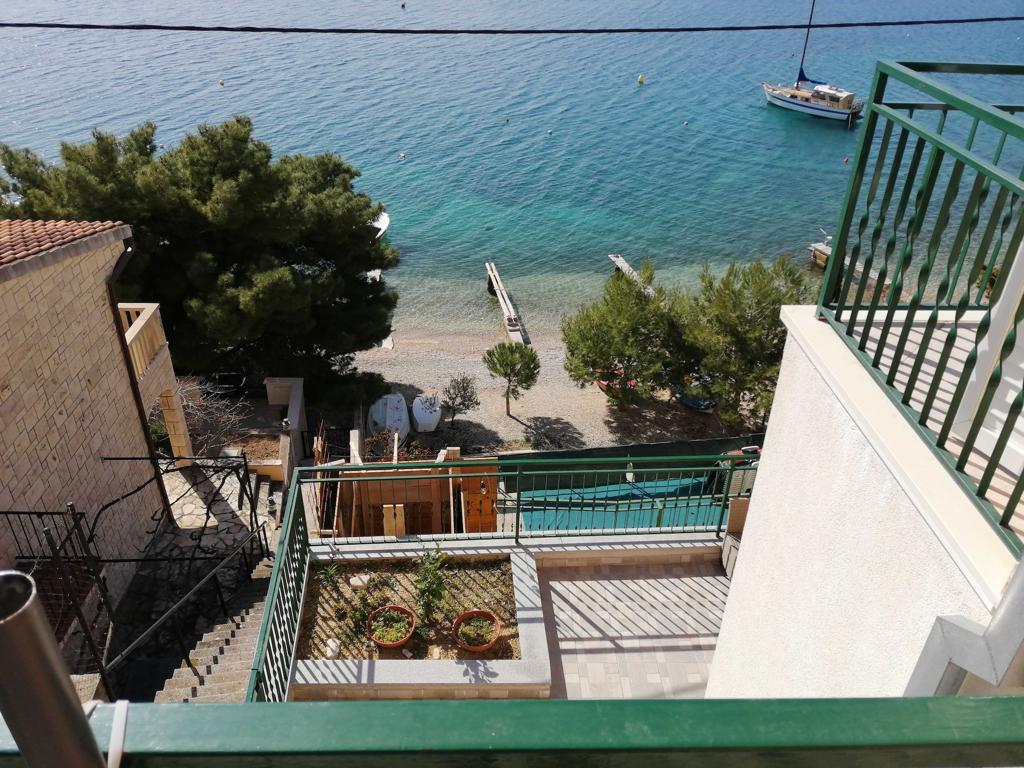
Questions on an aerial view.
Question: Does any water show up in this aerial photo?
Yes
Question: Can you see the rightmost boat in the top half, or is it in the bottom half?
top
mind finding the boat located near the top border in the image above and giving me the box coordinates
[752,0,870,122]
